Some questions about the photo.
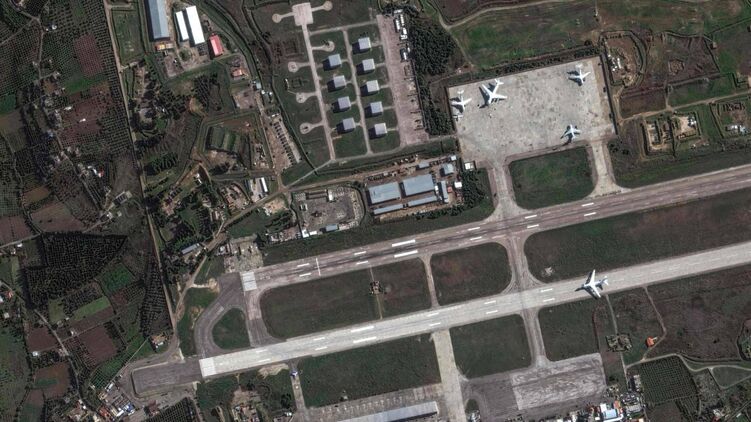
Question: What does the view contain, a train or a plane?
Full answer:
The one in the frame is a plane.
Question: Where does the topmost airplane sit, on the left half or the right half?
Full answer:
The topmost airplane sits on the right side.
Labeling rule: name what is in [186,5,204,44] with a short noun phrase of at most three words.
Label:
shed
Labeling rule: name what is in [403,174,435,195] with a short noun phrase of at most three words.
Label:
hangar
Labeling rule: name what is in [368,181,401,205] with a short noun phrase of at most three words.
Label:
hangar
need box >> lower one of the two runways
[199,240,751,381]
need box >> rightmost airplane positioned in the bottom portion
[582,269,610,297]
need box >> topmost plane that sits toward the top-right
[569,62,593,85]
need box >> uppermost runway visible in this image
[240,163,751,295]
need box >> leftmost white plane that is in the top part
[453,90,472,112]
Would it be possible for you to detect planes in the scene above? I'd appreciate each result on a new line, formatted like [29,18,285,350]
[565,124,581,140]
[453,90,472,112]
[482,77,508,104]
[582,269,610,297]
[569,62,593,85]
